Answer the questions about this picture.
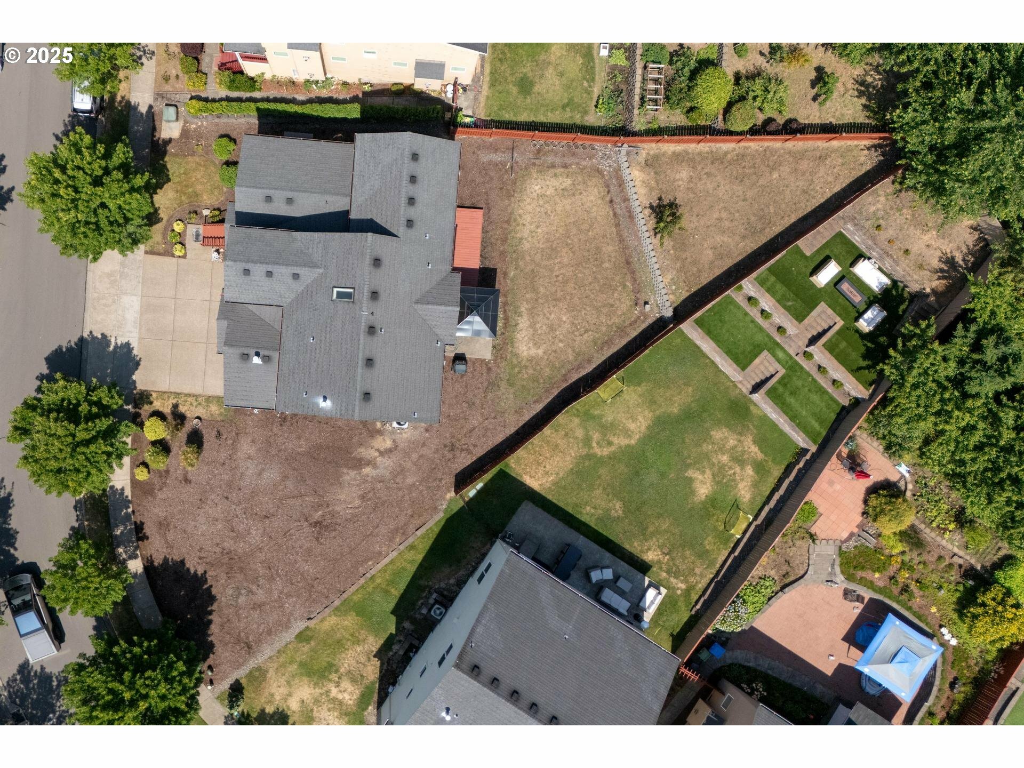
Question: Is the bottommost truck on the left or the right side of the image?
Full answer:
You can find the bottommost truck on the left side of the picture.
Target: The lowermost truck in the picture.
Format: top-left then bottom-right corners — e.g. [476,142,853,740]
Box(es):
[4,568,66,669]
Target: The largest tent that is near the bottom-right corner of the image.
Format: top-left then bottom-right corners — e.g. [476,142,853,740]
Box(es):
[837,601,944,703]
